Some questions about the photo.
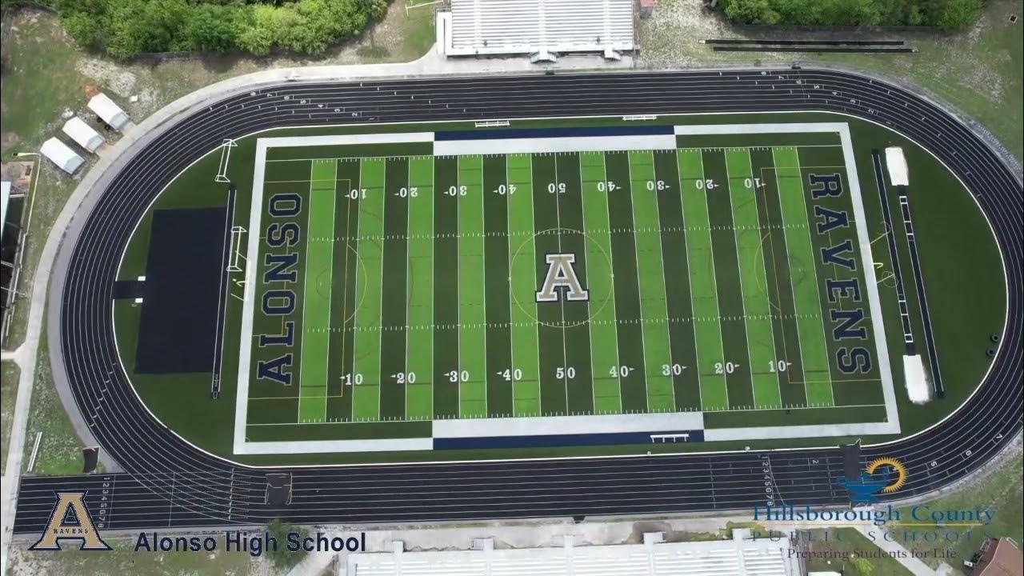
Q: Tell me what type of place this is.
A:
sports ground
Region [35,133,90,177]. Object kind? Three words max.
shed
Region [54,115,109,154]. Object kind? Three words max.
shed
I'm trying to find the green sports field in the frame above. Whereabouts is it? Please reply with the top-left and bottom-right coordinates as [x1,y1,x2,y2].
[235,120,902,456]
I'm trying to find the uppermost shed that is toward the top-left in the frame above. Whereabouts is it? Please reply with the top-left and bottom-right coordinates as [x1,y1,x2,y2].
[84,90,133,132]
